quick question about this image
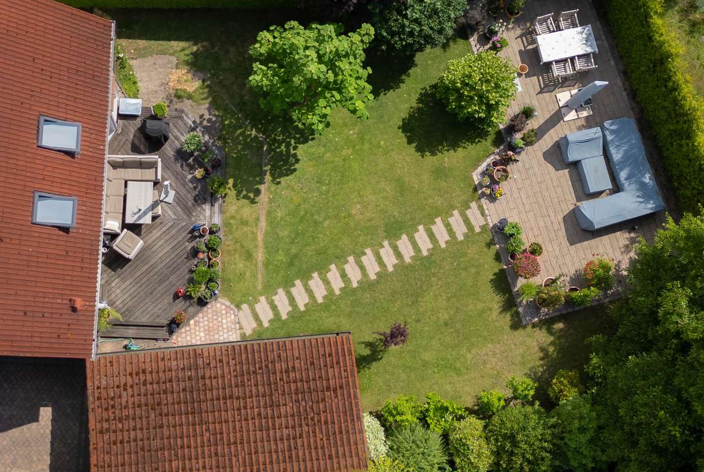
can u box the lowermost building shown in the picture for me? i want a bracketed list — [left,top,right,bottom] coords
[87,330,367,472]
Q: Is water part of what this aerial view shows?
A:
No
